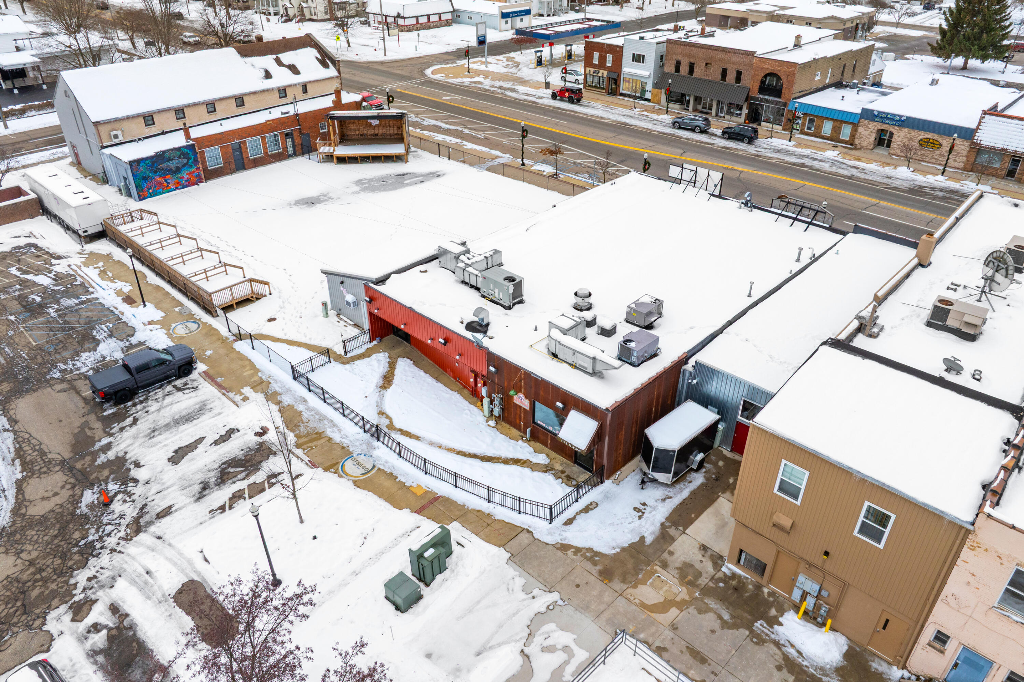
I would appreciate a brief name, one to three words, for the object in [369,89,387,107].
vehicle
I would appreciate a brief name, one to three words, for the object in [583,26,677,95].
building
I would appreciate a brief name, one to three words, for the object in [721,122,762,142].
car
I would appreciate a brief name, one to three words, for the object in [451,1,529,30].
building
